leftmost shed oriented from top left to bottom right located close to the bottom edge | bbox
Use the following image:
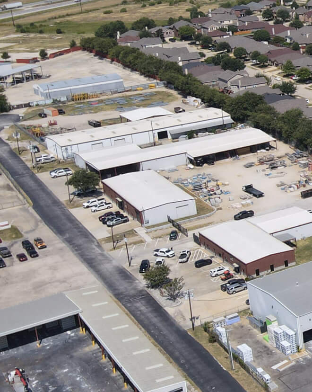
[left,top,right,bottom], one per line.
[67,281,184,392]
